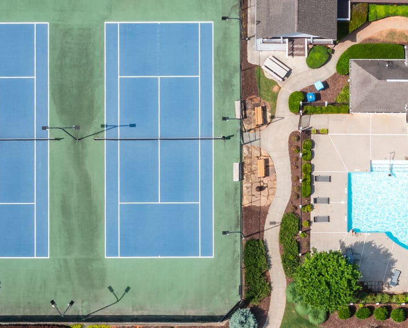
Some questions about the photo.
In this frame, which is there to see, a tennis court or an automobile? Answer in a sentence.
Visible in the photo is a tennis court.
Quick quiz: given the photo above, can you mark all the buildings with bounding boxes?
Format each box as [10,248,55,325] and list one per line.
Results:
[256,0,352,57]
[349,47,408,130]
